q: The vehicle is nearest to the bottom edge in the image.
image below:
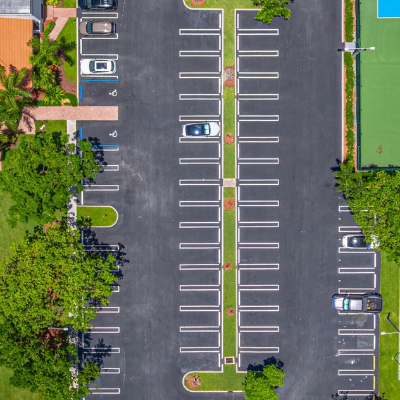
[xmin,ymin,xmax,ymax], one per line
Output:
[334,294,382,313]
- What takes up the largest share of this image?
paved ground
